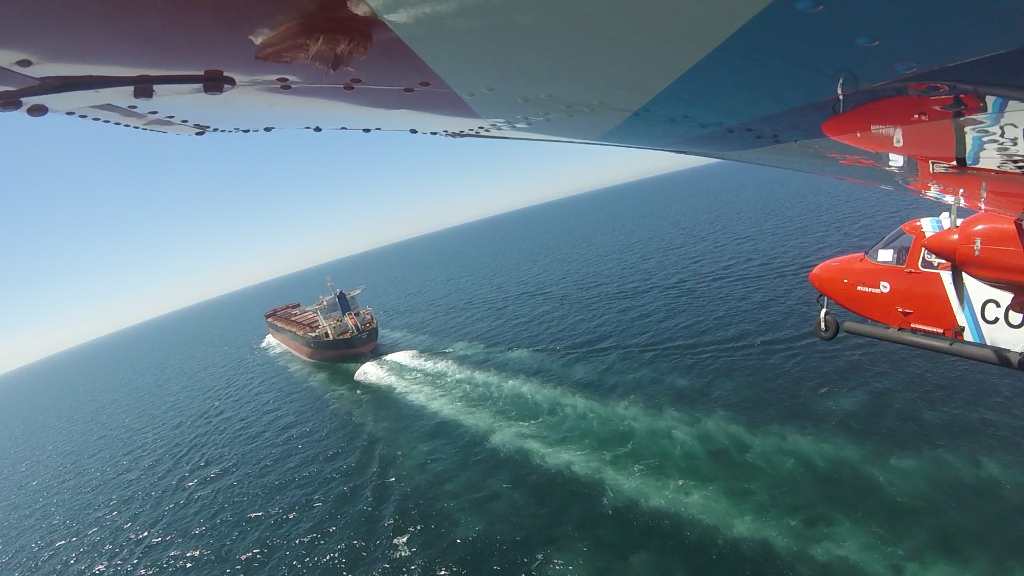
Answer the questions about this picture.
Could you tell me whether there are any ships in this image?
Yes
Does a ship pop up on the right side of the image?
No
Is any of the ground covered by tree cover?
No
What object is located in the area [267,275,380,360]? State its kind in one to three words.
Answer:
ship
